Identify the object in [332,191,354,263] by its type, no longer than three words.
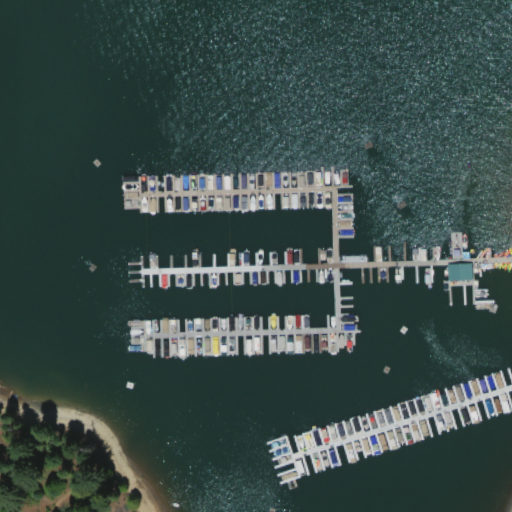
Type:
pier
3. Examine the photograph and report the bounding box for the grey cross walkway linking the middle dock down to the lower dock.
[334,268,358,328]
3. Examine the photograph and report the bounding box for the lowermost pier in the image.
[266,369,512,484]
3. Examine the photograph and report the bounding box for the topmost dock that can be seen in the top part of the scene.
[124,166,354,213]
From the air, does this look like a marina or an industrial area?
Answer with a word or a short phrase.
marina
